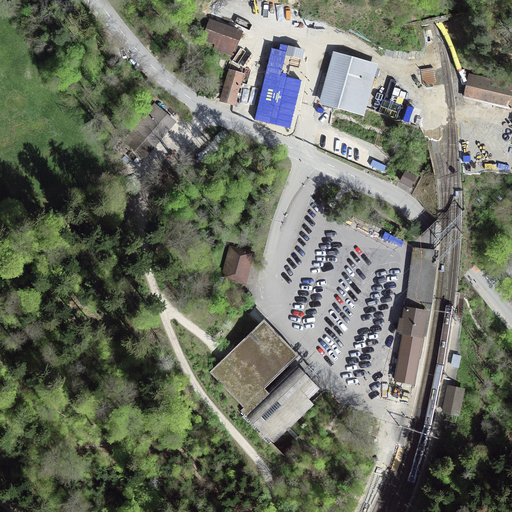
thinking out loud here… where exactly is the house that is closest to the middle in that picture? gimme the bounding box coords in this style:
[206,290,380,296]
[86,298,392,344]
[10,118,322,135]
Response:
[222,244,252,284]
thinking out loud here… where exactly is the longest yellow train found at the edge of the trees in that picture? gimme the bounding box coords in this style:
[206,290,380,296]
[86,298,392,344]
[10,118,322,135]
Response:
[437,22,467,85]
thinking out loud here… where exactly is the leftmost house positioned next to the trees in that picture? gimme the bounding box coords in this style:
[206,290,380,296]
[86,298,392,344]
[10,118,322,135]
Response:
[124,104,176,158]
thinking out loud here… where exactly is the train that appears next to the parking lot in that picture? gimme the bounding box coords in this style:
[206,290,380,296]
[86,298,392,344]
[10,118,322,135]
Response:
[408,304,454,482]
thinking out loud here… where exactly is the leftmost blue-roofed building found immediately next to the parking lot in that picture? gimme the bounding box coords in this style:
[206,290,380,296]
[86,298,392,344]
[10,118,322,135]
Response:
[256,44,304,128]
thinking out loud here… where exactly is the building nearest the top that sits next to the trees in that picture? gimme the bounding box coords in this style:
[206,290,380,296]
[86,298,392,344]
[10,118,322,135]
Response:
[205,19,242,56]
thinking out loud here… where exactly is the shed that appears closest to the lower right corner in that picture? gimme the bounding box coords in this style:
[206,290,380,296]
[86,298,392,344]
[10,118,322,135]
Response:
[443,386,464,416]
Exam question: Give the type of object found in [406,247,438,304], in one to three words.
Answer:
building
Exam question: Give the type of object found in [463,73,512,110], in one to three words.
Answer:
shed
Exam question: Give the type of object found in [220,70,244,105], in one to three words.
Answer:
house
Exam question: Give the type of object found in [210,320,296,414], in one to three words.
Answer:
building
